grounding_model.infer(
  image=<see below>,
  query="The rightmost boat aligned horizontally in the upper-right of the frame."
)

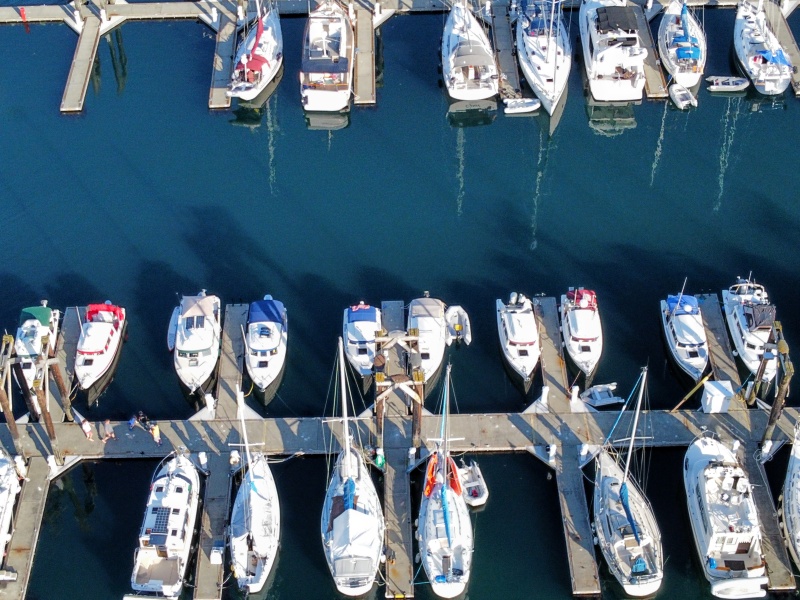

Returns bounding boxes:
[705,77,750,92]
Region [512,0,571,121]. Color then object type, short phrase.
white boat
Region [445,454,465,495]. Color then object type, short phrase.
red boat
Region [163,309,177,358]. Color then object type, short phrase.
blue boat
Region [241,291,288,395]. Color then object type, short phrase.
white boat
